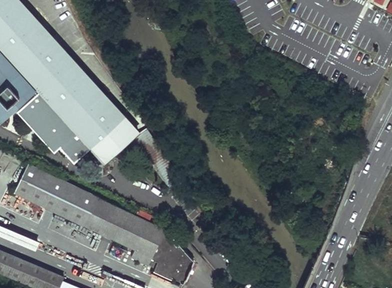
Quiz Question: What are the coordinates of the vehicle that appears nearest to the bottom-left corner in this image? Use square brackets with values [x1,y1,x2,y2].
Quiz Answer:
[73,269,102,286]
